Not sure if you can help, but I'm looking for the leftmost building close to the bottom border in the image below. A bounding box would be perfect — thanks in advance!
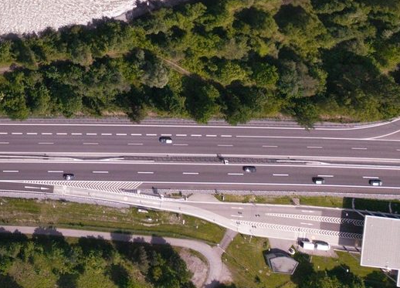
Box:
[264,250,298,274]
